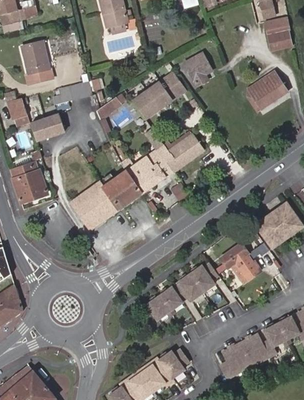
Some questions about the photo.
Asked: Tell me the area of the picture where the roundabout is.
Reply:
bottom left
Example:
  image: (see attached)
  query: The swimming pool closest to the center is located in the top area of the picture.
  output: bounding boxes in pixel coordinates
[110,110,134,128]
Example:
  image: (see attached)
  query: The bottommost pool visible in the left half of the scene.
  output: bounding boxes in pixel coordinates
[16,130,32,150]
